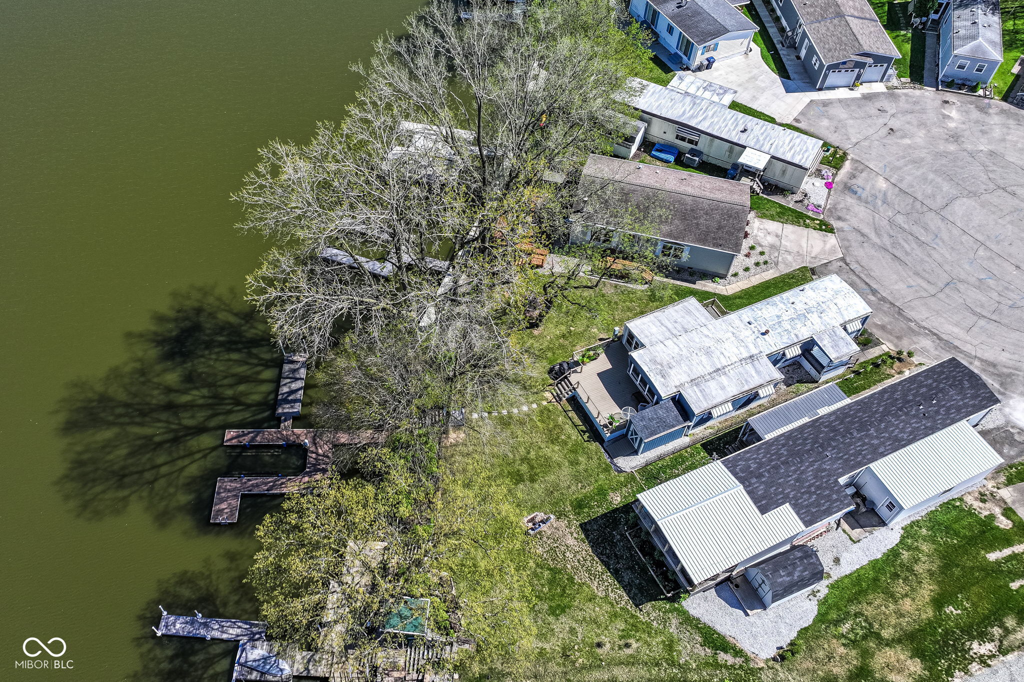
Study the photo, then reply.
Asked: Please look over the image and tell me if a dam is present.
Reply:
No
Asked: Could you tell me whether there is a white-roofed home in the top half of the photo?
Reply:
Yes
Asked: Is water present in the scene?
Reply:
Yes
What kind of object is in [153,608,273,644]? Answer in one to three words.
pier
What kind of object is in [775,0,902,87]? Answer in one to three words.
house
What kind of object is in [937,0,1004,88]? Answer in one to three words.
house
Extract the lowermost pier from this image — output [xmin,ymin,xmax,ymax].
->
[223,641,300,682]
